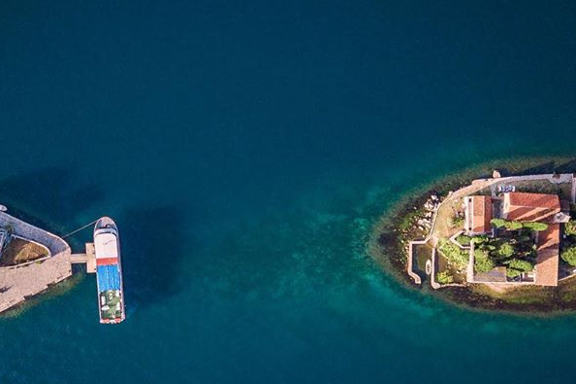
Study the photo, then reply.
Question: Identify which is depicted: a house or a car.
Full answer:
There is a house in the scene.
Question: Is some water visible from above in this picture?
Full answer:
Yes, water shows up in the scene.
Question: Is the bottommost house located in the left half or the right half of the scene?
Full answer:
The bottommost house is on the right side of the image.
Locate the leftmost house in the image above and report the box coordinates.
[461,196,492,232]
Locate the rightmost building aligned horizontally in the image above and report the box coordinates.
[502,193,571,225]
